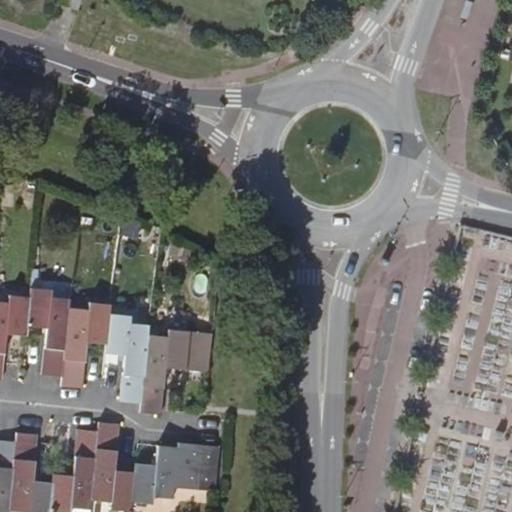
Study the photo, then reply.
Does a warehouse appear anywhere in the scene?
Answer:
No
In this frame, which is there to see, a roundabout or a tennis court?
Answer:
roundabout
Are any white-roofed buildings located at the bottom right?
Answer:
No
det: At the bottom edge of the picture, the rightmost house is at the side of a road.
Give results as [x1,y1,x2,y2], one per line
[173,443,218,491]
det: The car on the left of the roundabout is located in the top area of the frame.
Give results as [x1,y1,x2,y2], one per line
[72,72,96,87]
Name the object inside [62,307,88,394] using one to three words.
house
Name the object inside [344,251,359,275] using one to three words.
car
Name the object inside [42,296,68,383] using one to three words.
house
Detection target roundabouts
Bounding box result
[216,64,427,248]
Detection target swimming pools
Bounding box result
[194,274,208,297]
